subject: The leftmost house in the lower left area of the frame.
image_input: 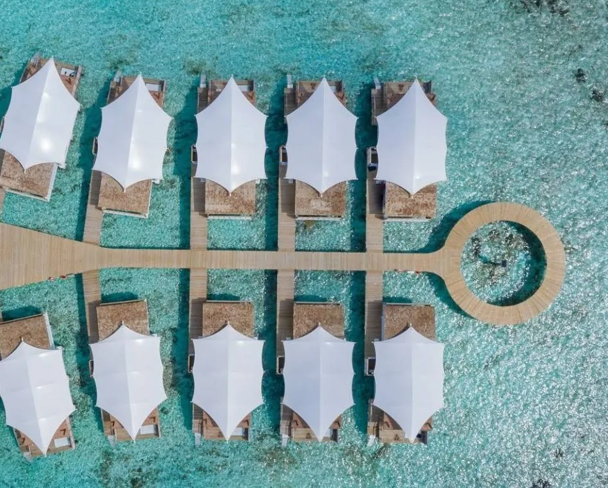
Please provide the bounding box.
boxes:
[0,309,78,459]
